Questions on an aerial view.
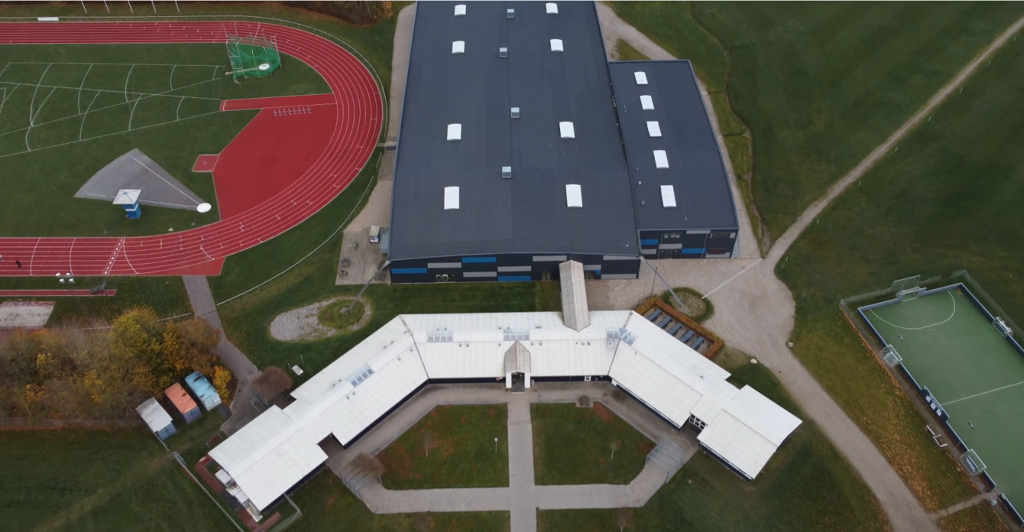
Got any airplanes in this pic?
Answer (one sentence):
No, no airplane can be seen from above.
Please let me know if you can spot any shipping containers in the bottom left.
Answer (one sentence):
Yes, a shipping container shows up in the bottom left.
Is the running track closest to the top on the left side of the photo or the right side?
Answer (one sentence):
It is on the left.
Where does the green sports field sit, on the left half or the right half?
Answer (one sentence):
It is on the left.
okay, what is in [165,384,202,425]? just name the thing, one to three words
shipping container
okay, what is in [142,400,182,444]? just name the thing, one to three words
shipping container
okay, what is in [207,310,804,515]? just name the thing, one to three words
building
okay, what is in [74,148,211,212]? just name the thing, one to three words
sports field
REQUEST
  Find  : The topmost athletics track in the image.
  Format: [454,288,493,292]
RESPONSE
[0,20,384,276]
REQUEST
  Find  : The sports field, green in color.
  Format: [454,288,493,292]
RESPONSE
[0,42,335,237]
